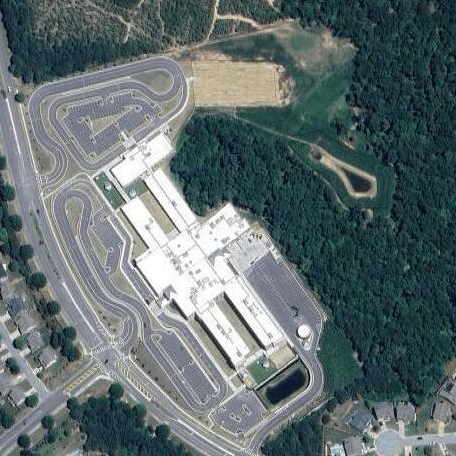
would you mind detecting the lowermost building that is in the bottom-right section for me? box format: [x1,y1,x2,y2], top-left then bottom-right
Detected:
[341,438,363,456]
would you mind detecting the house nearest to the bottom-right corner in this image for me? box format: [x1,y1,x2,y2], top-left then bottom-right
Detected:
[433,403,452,423]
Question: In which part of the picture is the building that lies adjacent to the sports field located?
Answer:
center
